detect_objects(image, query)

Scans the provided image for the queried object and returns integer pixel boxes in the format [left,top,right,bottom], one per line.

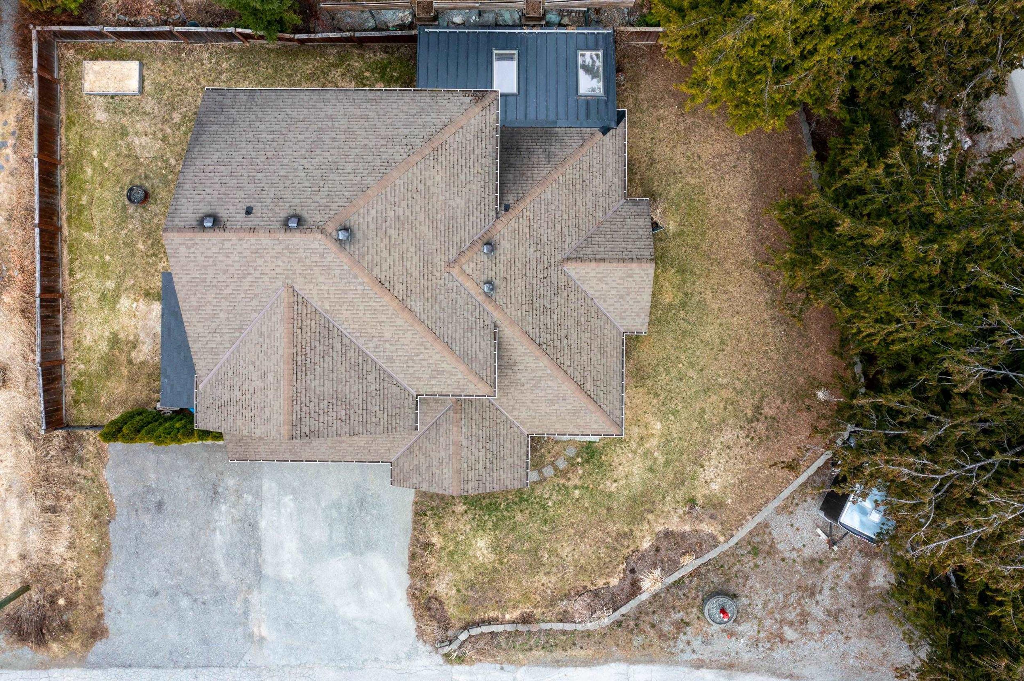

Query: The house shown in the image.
[161,26,656,496]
